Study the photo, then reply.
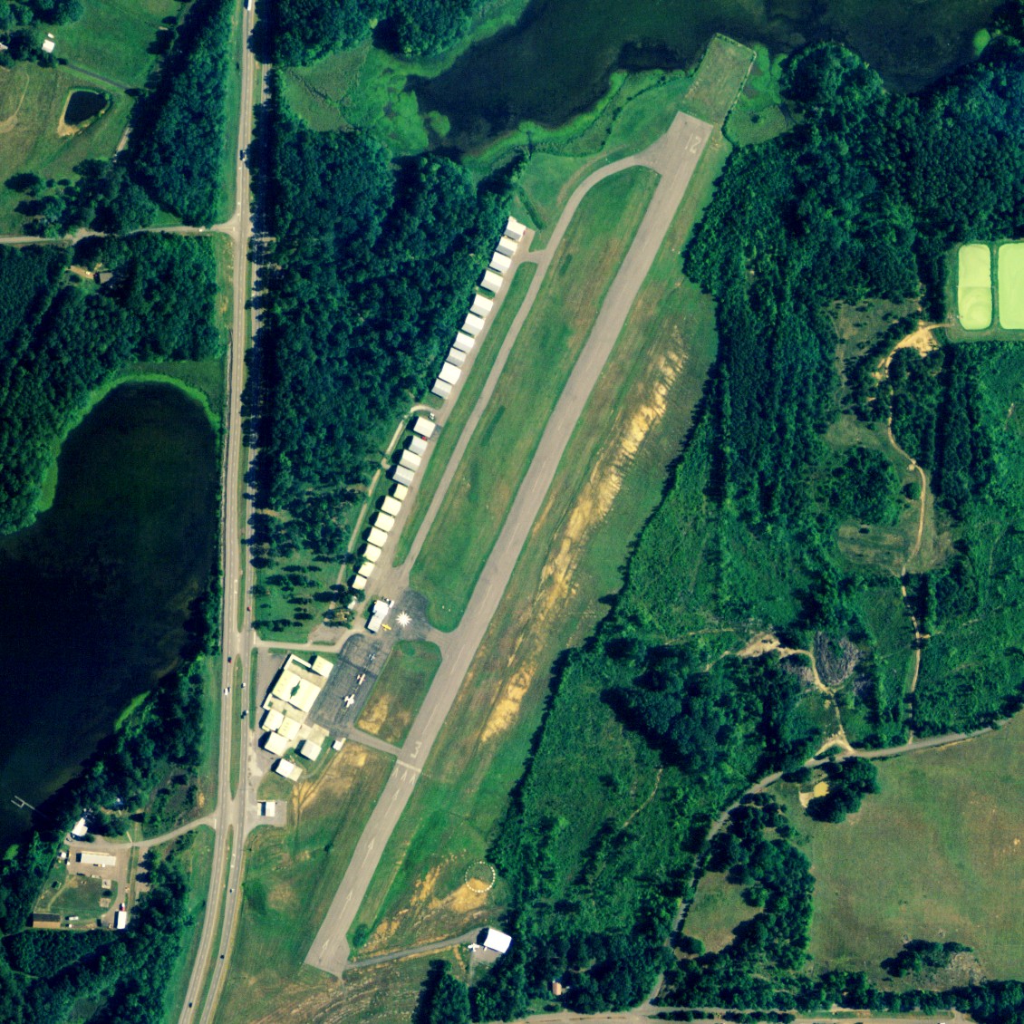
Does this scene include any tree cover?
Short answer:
Yes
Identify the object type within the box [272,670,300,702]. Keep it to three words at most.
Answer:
building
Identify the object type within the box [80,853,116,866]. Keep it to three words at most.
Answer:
shed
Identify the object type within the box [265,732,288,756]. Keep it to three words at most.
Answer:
hangar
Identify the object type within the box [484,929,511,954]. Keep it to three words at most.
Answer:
hangar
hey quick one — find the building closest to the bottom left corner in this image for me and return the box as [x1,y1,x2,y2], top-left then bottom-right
[32,914,60,929]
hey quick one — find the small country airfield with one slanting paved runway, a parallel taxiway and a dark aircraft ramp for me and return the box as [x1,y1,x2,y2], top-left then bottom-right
[271,111,713,981]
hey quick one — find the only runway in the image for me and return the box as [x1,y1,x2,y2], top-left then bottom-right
[304,111,713,981]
